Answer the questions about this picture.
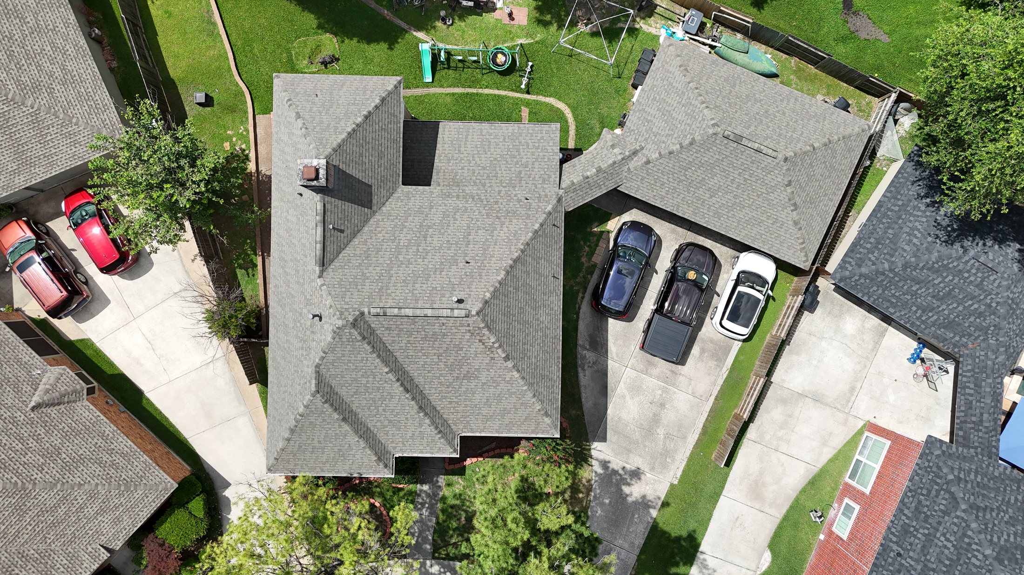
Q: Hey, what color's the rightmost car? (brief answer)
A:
white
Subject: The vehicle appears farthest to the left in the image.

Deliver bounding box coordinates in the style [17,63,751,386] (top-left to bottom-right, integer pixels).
[0,213,87,319]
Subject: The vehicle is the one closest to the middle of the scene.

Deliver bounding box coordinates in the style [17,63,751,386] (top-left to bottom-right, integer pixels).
[591,216,658,324]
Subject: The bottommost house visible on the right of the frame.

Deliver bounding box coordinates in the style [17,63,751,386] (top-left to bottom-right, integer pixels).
[810,426,1024,575]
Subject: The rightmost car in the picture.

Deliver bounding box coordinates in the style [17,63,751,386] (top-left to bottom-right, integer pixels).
[713,248,780,347]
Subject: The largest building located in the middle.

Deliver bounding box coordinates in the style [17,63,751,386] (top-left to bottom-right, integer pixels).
[264,72,567,478]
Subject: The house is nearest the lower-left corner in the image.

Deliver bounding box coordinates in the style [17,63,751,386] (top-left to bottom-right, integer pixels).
[0,310,188,575]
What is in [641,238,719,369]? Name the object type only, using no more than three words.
truck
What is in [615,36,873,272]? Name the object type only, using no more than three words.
building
